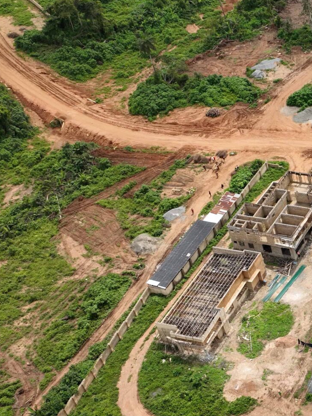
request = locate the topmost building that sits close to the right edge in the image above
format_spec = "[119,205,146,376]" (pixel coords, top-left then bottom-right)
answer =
[227,170,312,260]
